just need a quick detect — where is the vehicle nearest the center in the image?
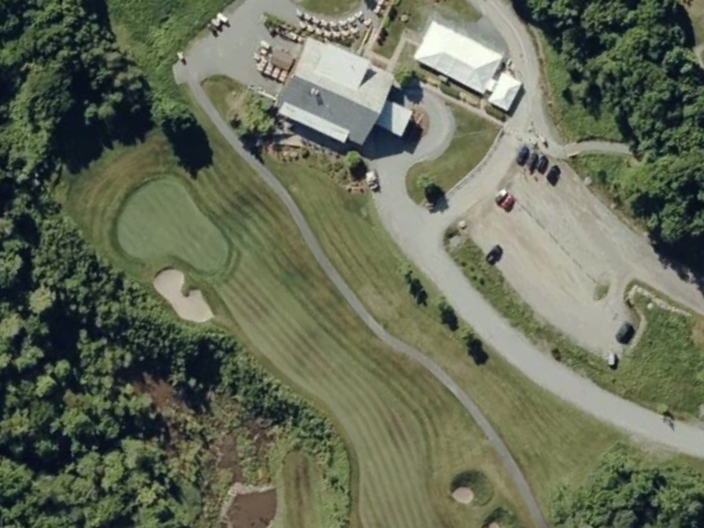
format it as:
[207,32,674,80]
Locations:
[366,169,379,191]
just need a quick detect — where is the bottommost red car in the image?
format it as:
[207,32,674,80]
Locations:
[501,194,515,210]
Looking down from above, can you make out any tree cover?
Yes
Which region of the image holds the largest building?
top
